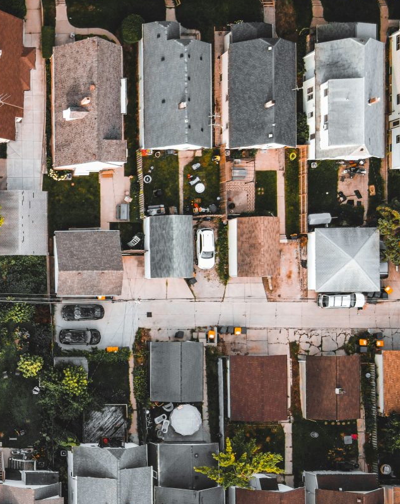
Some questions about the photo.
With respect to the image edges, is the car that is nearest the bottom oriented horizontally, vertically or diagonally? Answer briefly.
horizontally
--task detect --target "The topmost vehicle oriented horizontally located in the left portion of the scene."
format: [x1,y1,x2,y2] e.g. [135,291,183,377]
[62,301,105,321]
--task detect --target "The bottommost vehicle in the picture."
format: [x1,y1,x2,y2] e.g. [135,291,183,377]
[60,327,103,347]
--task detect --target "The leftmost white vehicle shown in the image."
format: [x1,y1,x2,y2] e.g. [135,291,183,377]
[198,227,220,269]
